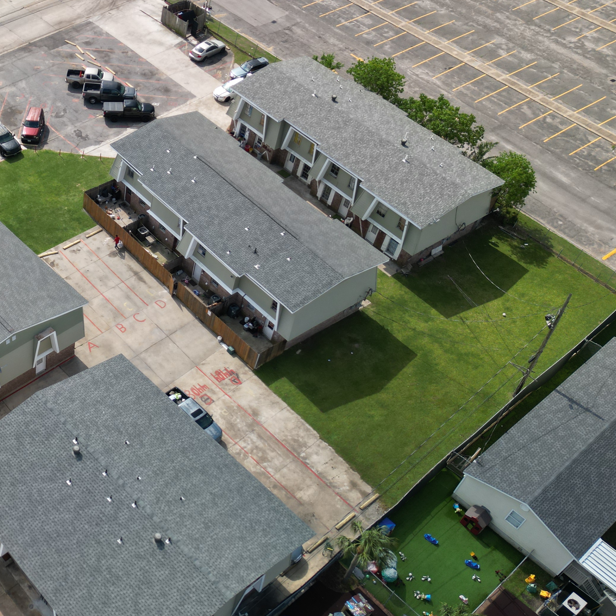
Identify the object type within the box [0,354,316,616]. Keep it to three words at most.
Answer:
house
